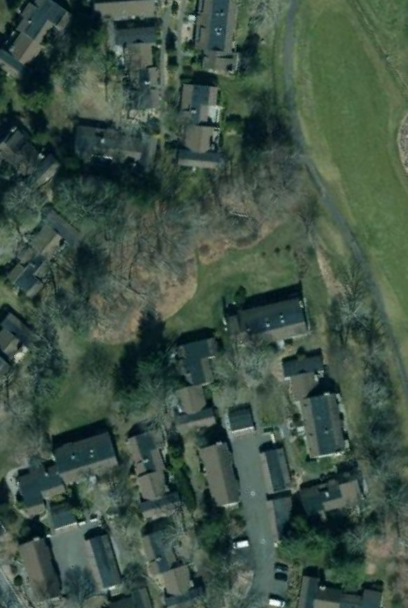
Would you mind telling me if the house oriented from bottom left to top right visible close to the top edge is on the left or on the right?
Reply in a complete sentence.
You can find the house oriented from bottom left to top right visible close to the top edge on the left side of the picture.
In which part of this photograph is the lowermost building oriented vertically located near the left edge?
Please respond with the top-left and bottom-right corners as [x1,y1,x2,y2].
[19,536,60,604]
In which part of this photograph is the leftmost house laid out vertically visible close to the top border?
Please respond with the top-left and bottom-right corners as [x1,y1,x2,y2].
[114,26,159,112]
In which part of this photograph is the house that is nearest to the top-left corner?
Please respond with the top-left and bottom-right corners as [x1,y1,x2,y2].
[0,0,64,79]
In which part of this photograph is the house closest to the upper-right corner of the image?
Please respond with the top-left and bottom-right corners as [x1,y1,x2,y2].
[196,0,239,77]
